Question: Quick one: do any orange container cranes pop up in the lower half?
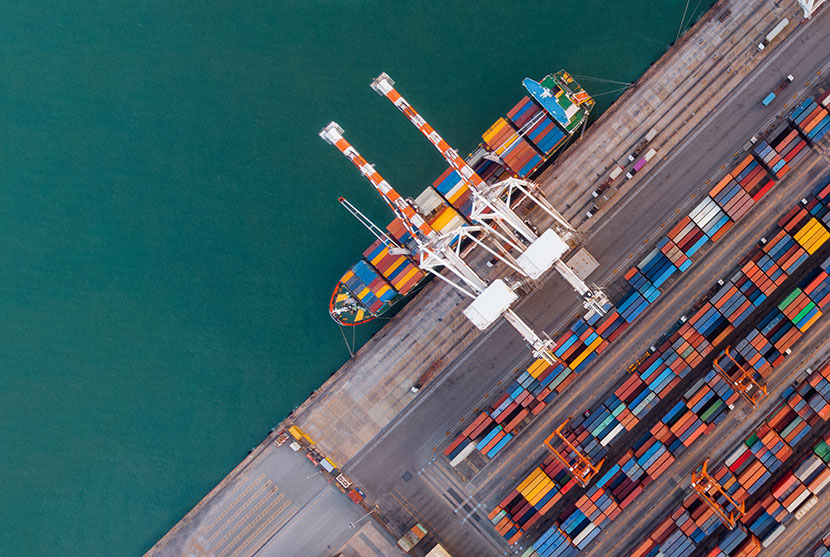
Yes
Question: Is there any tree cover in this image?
No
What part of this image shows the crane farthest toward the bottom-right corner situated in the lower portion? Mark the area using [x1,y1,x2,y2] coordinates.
[692,454,750,528]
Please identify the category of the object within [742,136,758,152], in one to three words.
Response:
vehicle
